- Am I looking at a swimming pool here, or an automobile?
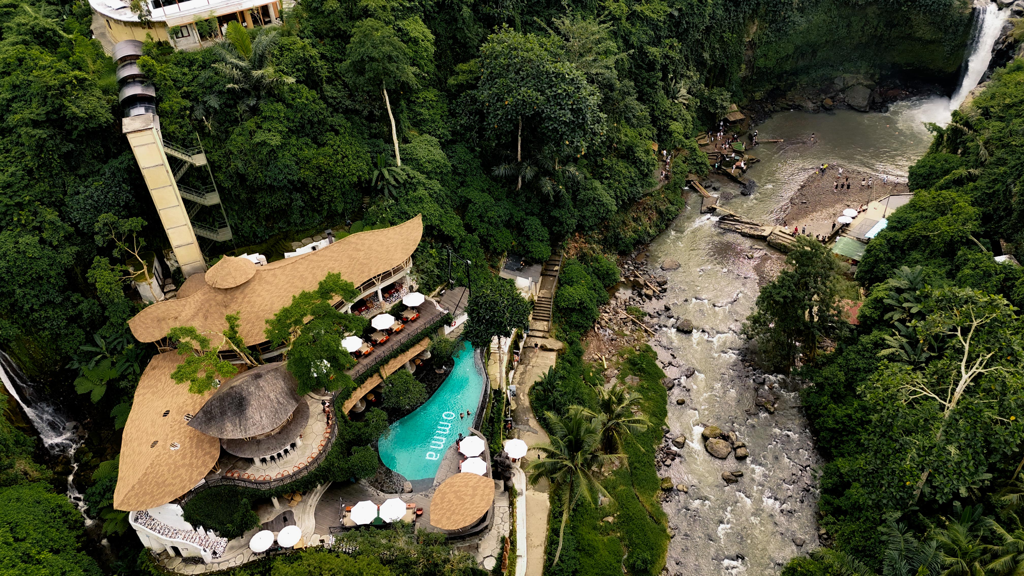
swimming pool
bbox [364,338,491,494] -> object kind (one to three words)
swimming pool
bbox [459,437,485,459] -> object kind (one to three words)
umbrella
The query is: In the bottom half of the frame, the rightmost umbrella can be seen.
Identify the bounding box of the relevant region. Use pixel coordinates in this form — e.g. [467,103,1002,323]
[503,439,528,461]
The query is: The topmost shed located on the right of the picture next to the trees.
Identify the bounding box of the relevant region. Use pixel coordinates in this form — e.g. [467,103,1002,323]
[722,104,746,133]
